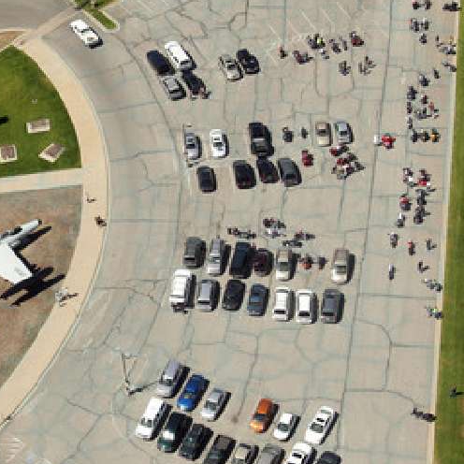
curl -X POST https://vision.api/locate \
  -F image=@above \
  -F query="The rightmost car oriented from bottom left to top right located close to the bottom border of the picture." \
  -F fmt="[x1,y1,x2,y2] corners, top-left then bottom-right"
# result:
[303,406,338,447]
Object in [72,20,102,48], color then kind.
white truck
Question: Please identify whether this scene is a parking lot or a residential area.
parking lot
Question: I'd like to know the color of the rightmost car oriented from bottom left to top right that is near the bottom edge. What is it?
white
